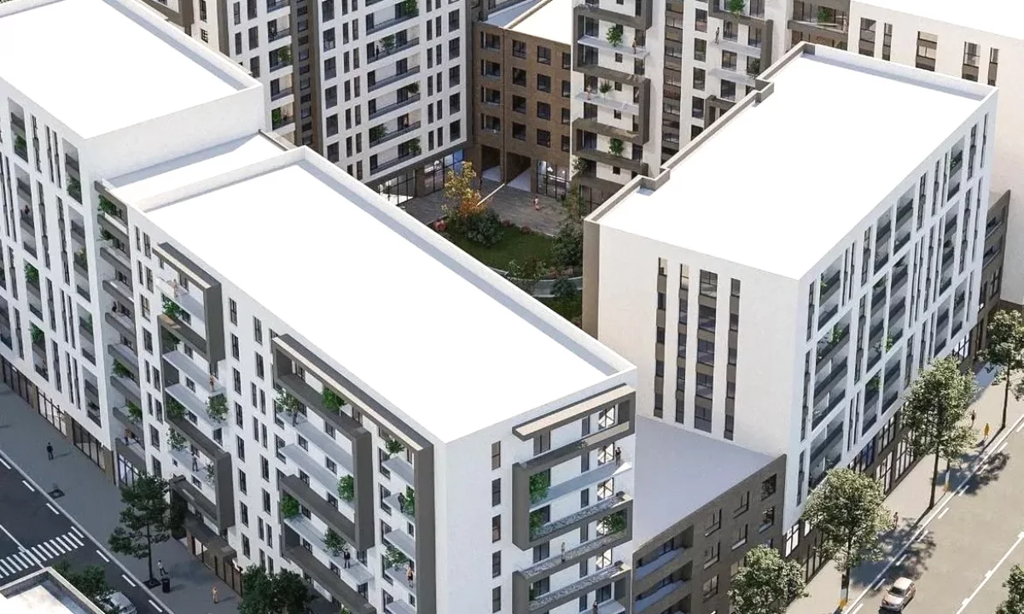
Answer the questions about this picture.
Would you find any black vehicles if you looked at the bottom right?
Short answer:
No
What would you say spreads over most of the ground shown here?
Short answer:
buildings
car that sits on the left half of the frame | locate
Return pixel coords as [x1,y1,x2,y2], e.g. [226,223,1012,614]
[105,589,145,614]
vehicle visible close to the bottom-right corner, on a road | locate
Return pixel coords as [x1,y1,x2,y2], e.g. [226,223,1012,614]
[883,577,916,612]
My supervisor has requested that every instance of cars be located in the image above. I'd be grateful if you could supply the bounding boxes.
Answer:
[883,577,916,612]
[105,589,145,614]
